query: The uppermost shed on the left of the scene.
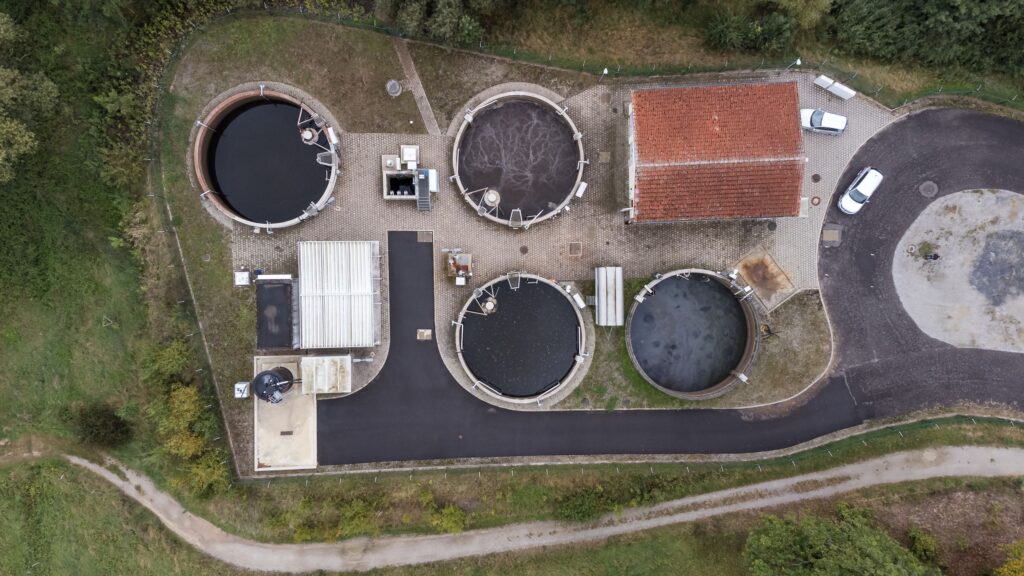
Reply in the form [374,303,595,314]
[292,240,383,348]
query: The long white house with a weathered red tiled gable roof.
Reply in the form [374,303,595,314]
[620,79,811,223]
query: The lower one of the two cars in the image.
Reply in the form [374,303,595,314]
[836,166,883,215]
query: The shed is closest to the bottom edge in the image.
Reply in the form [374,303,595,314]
[302,355,355,393]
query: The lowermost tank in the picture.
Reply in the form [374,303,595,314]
[251,367,302,406]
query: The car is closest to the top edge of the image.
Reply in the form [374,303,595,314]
[801,107,848,135]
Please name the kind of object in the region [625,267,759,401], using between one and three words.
storage tank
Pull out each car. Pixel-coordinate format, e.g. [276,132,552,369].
[801,107,848,135]
[836,166,883,215]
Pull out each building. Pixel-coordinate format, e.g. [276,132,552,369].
[620,79,811,223]
[292,240,383,348]
[302,355,355,393]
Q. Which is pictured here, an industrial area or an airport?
industrial area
